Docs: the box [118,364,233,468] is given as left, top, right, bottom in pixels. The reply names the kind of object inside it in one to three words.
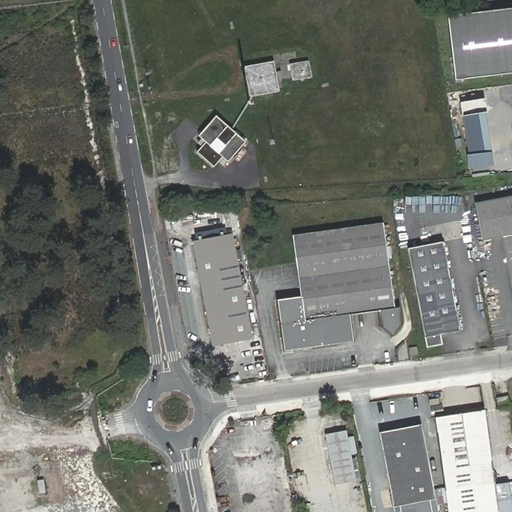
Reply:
roundabout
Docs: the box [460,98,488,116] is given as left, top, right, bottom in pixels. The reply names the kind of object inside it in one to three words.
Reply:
building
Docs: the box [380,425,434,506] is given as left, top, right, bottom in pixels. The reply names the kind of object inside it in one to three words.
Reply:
shed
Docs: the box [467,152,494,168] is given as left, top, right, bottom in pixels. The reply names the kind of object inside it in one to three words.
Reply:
building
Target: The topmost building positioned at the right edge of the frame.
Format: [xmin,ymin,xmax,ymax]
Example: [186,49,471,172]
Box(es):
[448,8,512,81]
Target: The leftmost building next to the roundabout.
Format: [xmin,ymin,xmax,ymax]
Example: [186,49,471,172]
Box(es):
[193,234,252,346]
